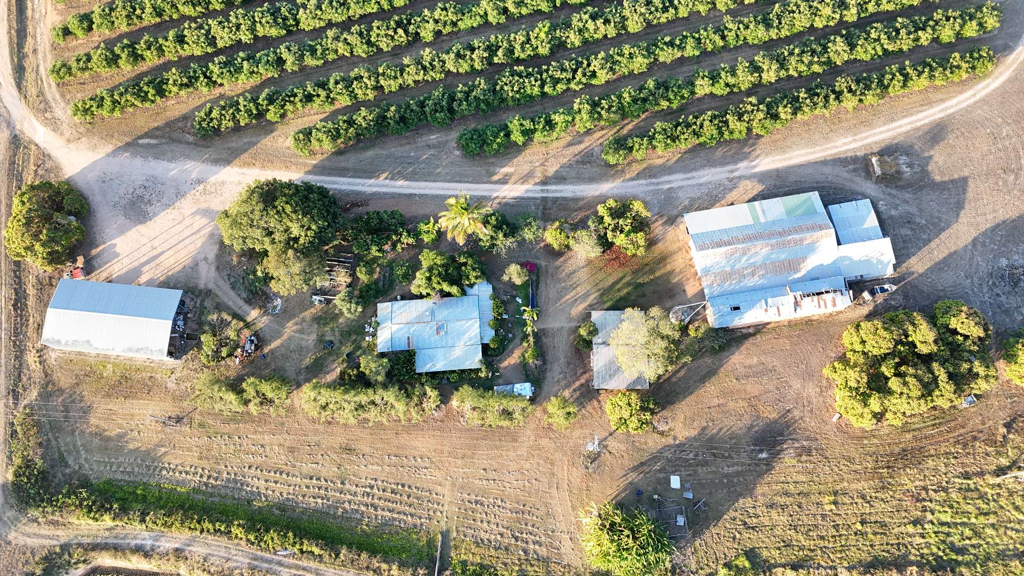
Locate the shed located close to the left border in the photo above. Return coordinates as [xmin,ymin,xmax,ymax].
[42,278,190,362]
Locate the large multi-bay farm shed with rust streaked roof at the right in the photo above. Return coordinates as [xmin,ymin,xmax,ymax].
[679,191,895,331]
